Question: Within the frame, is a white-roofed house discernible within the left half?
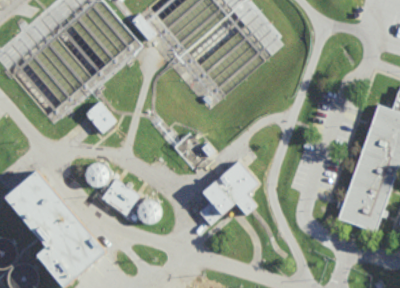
Yes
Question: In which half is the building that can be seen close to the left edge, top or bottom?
bottom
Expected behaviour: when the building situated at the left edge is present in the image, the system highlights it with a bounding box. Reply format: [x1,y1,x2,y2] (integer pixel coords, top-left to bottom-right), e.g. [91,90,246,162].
[6,172,106,288]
